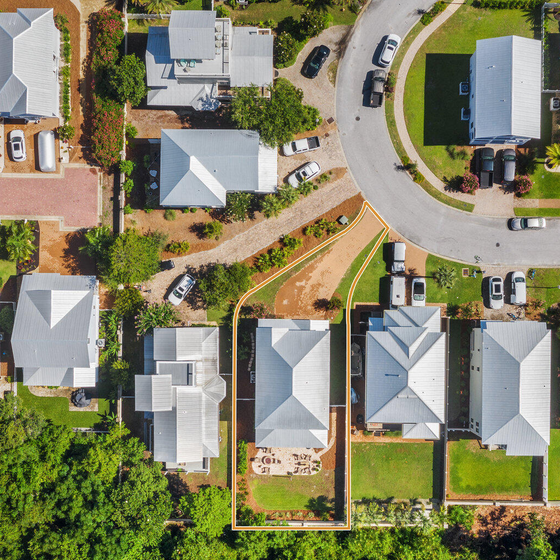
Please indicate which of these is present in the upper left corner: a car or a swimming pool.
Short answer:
car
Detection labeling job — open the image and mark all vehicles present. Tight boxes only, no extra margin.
[380,32,400,69]
[508,215,545,232]
[500,149,518,183]
[368,68,387,109]
[303,42,328,80]
[489,277,506,310]
[411,277,428,307]
[478,149,497,188]
[511,271,529,305]
[392,241,408,273]
[9,130,26,163]
[389,276,407,310]
[287,159,324,187]
[168,272,196,306]
[282,133,323,158]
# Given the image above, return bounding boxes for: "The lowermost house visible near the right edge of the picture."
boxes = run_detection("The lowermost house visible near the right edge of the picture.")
[466,320,551,456]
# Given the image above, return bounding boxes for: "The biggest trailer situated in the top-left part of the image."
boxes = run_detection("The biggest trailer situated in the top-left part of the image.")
[37,126,58,174]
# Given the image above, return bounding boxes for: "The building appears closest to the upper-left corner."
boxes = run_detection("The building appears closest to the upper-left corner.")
[0,8,60,127]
